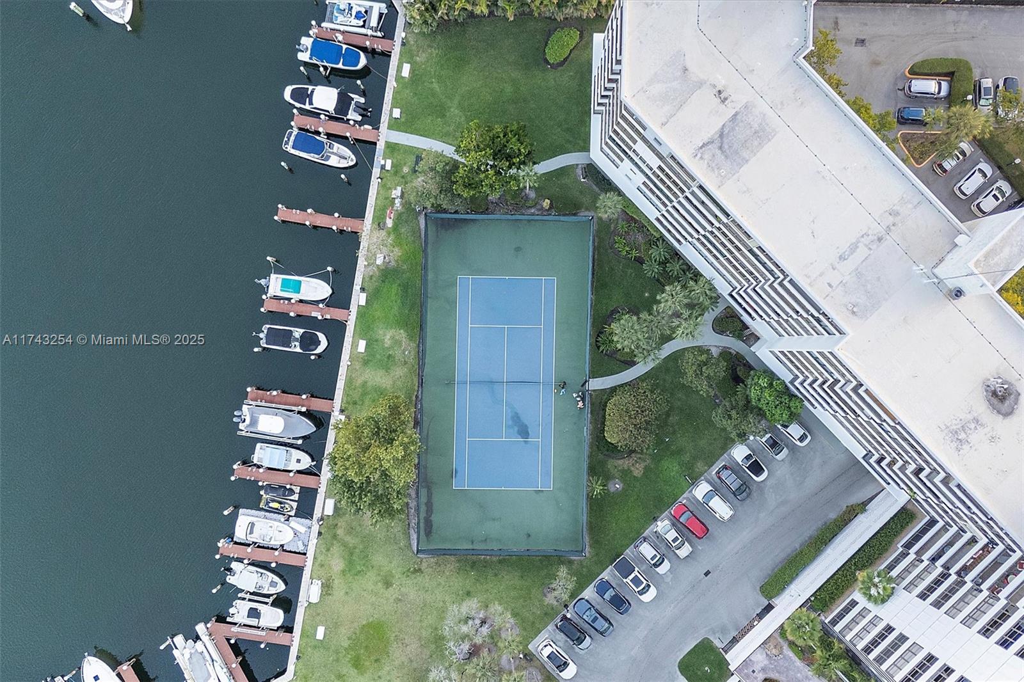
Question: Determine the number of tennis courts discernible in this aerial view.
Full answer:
The photo contains exactly 1 tennis court.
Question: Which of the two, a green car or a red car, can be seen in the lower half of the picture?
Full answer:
You can see a red car in the lower half of the picture.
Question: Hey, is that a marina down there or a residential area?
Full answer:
The picture captures a marina.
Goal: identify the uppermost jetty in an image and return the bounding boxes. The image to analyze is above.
[315,27,394,51]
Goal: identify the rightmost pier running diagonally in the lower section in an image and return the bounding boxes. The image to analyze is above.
[207,629,251,682]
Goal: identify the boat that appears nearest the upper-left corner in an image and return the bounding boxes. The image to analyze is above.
[92,0,130,29]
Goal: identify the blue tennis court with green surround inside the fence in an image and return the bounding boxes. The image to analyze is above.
[421,220,589,547]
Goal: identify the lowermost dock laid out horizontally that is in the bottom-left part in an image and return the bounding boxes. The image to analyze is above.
[210,621,293,645]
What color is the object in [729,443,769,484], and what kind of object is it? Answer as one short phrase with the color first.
white car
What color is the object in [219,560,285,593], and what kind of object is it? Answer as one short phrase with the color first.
white boat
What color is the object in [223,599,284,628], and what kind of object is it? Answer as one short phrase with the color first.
white boat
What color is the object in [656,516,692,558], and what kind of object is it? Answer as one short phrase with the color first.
white car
